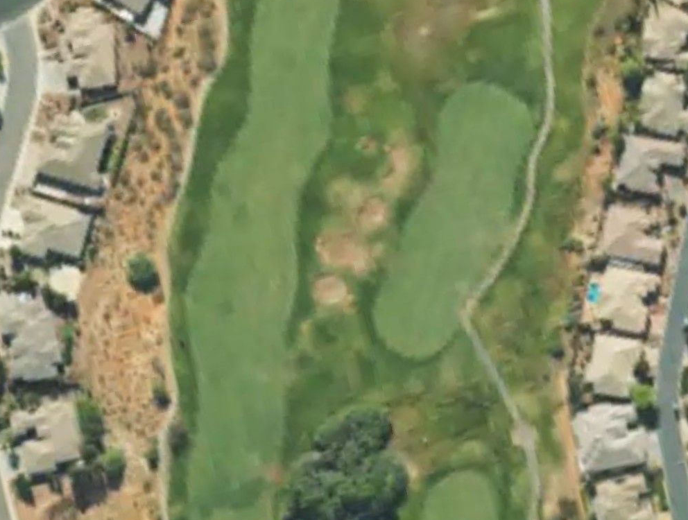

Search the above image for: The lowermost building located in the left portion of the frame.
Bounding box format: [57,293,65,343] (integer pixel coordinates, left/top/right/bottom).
[2,395,86,478]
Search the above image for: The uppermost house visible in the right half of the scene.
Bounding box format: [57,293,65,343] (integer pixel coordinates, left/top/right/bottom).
[639,0,688,60]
